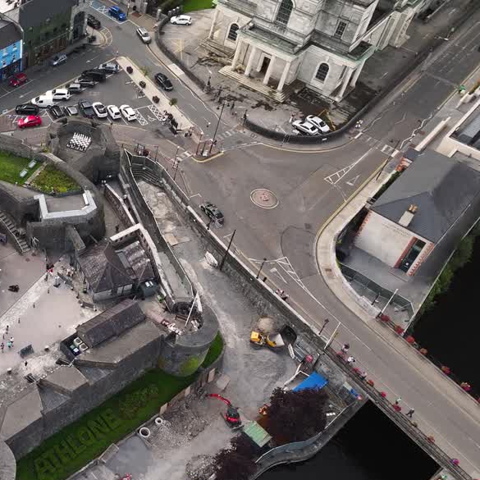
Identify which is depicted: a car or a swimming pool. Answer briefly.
car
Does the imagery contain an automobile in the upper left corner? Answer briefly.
Yes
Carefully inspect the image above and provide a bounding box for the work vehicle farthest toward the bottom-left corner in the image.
[207,386,246,427]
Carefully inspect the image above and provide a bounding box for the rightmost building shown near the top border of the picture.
[203,0,440,102]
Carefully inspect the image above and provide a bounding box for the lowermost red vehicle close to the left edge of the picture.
[16,114,43,128]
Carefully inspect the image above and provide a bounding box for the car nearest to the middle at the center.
[198,202,227,228]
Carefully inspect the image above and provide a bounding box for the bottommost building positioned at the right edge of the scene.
[351,148,480,276]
